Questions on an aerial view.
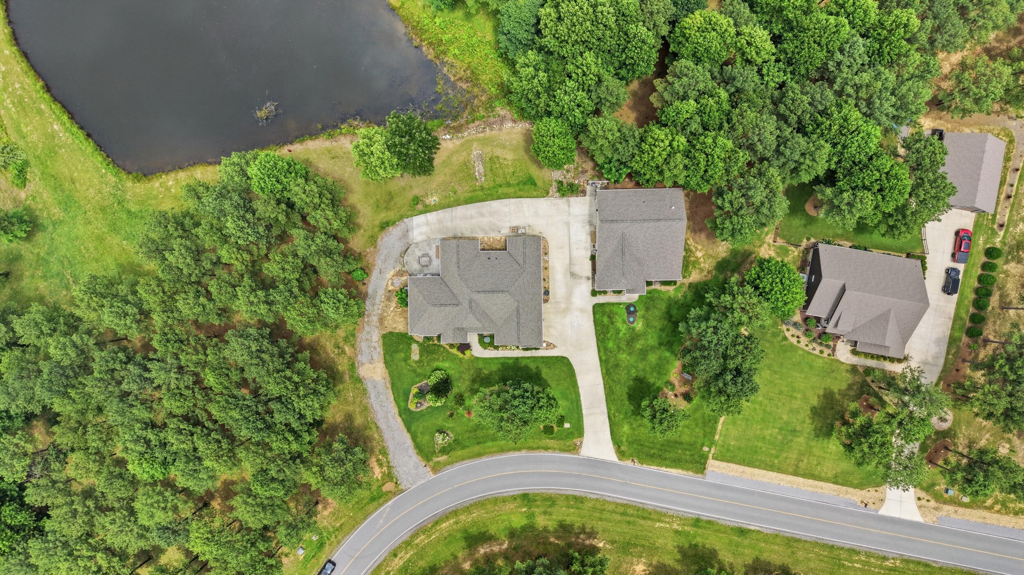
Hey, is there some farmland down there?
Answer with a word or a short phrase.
No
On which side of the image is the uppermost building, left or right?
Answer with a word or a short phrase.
right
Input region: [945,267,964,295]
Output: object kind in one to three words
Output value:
car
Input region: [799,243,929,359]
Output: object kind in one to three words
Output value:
house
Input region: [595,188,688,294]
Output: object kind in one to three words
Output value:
house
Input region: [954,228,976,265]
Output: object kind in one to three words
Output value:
truck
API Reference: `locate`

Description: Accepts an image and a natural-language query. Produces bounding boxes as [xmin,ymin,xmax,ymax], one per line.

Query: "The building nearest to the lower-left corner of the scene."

[408,236,544,348]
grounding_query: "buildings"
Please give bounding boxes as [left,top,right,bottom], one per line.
[799,243,929,359]
[941,131,1006,215]
[595,188,688,294]
[408,236,544,348]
